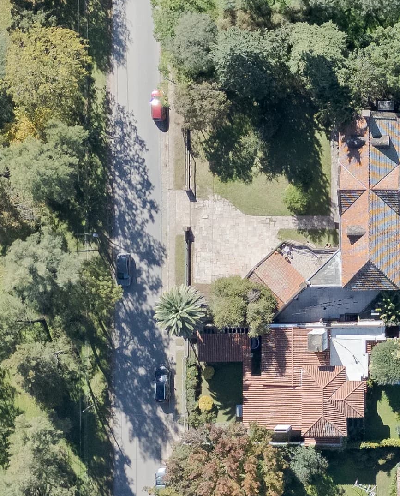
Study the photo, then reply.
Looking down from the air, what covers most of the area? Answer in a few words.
trees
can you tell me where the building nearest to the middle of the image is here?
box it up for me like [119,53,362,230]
[243,252,307,314]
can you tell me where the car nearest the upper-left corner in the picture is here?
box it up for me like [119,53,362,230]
[149,90,168,122]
